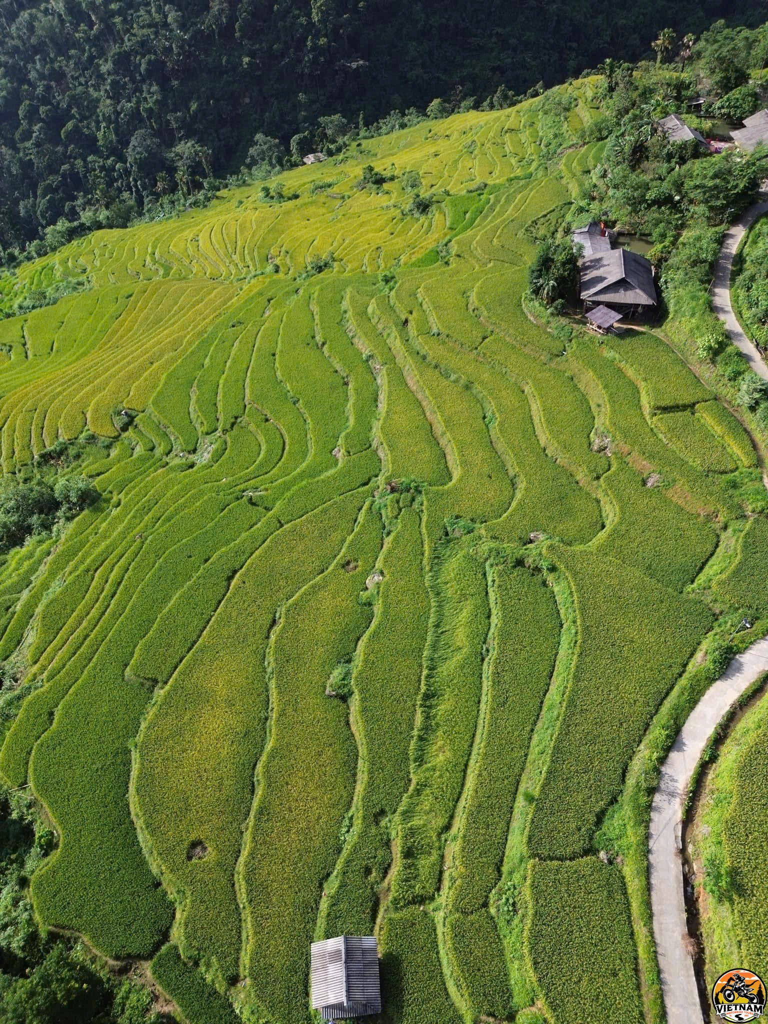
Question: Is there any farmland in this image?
Yes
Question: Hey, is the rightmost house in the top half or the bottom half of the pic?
top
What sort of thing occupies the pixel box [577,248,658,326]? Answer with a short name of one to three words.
house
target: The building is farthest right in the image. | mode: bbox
[731,112,768,157]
